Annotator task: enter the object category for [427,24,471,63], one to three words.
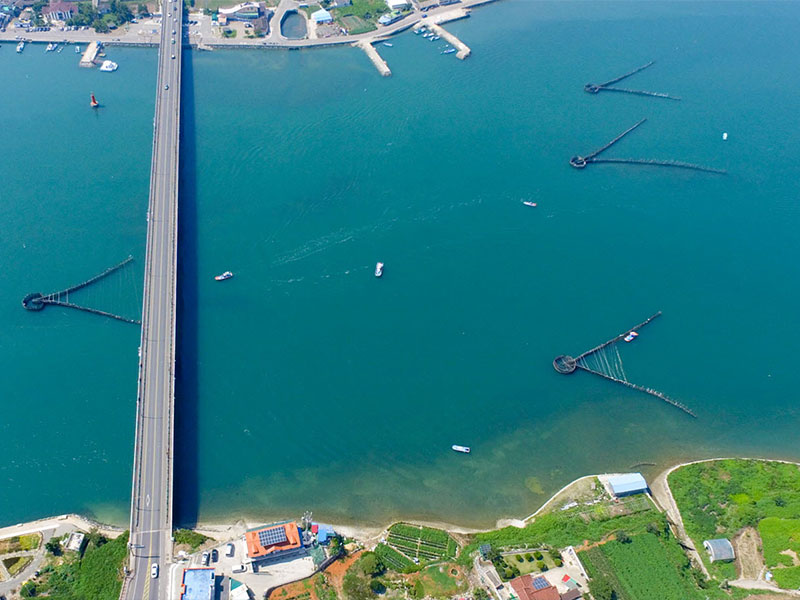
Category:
pier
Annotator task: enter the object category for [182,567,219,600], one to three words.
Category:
house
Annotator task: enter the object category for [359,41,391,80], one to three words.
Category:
pier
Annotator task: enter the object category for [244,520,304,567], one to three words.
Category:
house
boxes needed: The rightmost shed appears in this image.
[700,539,738,563]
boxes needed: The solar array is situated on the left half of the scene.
[259,525,289,549]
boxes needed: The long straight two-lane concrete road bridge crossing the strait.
[129,0,184,541]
